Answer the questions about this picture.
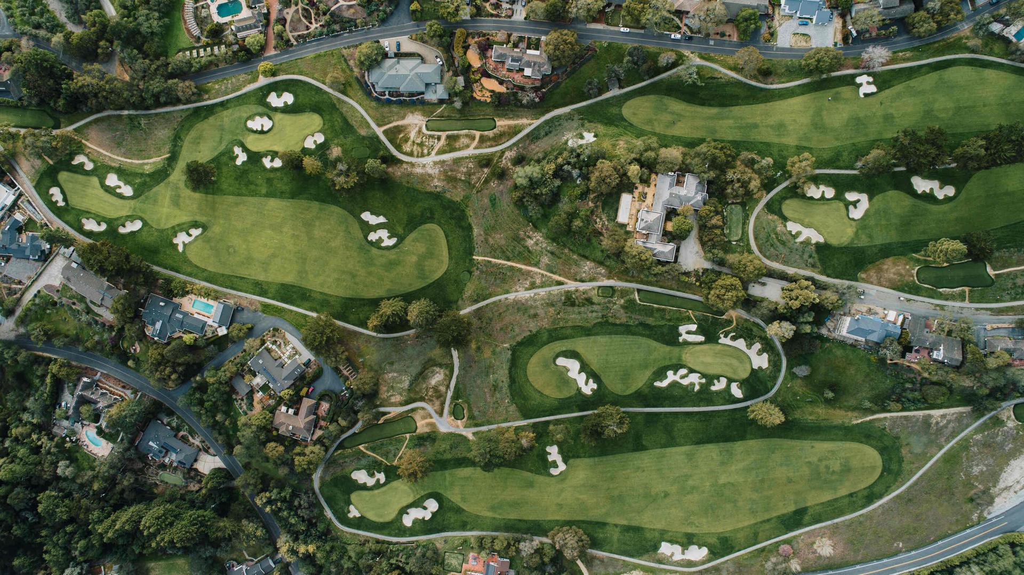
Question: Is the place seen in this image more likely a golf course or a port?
golf course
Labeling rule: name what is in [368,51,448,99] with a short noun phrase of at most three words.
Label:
house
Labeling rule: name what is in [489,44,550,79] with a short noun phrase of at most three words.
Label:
house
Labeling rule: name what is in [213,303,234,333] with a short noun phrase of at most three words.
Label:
building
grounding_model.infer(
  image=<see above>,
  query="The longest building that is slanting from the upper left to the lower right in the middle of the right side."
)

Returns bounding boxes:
[905,316,963,362]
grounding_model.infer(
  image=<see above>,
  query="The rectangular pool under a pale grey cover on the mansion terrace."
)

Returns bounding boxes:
[617,193,633,223]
